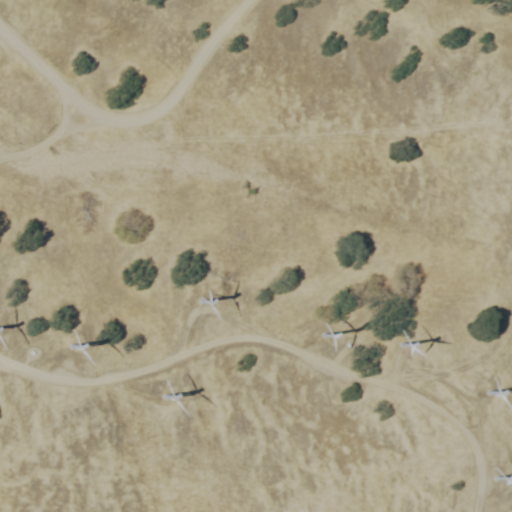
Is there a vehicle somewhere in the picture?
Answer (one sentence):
No, this view has no vehicle in it.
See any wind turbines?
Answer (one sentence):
Yes, a wind turbine is visible in the scene.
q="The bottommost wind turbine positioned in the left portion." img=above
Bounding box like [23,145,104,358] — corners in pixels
[162,381,188,414]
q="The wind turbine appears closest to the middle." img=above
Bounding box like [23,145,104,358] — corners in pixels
[198,290,221,322]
